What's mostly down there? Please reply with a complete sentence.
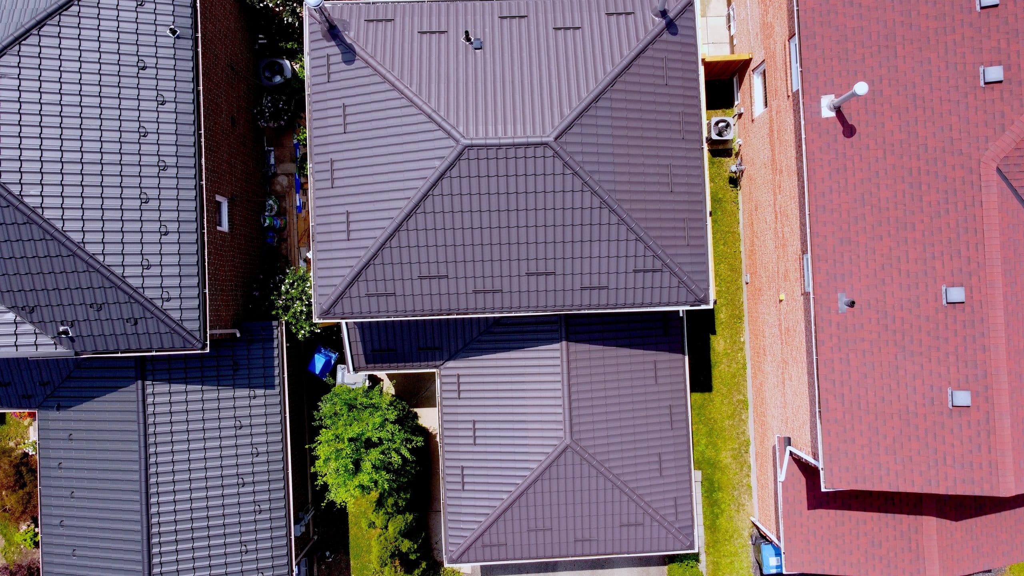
What you mostly see from above here is buildings.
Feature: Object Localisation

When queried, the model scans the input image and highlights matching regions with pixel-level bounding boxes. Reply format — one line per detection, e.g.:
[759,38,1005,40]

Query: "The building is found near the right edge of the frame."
[724,0,1024,576]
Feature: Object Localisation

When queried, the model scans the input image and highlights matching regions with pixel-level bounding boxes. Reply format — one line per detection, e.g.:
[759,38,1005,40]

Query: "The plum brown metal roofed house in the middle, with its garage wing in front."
[303,0,711,566]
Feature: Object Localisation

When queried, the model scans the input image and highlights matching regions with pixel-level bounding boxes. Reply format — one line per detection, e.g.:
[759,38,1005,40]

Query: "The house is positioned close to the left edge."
[0,0,319,576]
